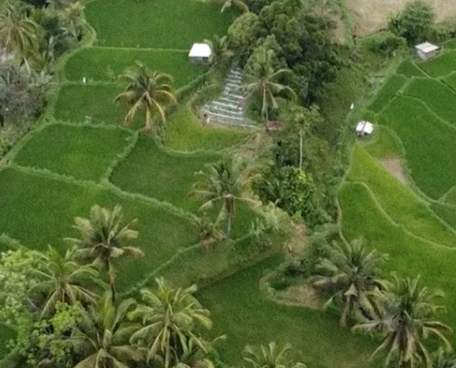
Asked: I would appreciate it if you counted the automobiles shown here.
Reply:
none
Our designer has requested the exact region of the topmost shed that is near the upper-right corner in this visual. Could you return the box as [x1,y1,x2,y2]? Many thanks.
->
[417,43,443,64]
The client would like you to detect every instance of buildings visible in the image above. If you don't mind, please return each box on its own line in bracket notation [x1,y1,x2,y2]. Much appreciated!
[190,49,212,71]
[417,43,443,64]
[357,123,376,140]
